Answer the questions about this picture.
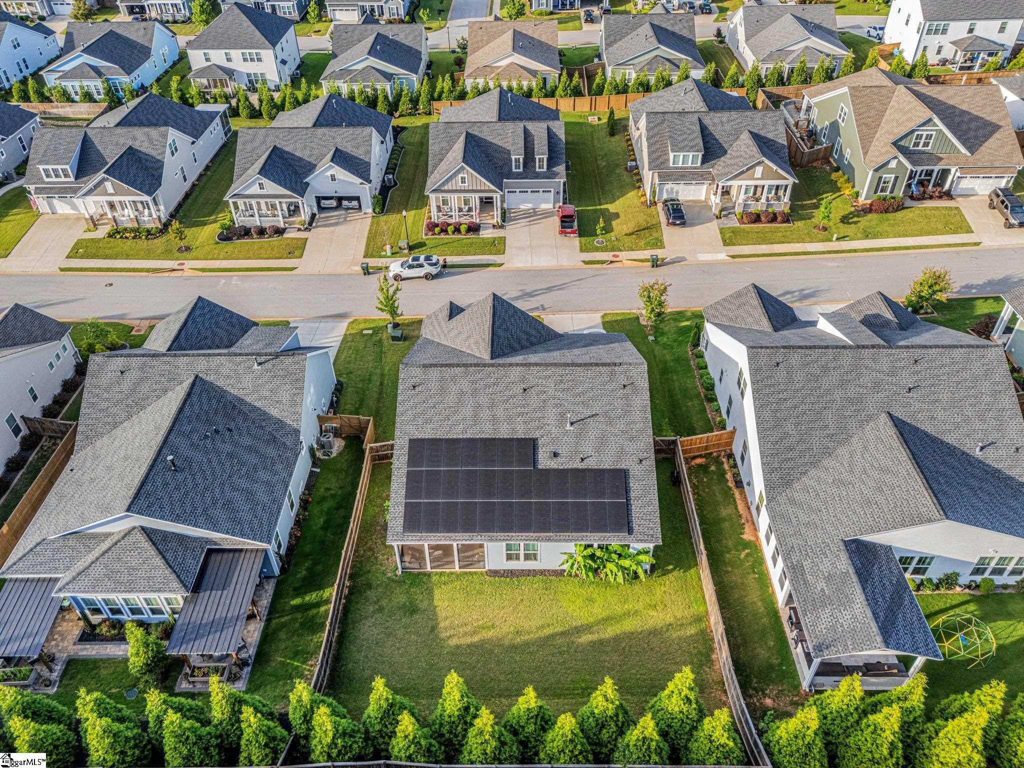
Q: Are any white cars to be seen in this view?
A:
Yes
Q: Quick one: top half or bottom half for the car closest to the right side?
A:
top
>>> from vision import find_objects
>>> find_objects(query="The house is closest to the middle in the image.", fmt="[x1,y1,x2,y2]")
[387,291,662,577]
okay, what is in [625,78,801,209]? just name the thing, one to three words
house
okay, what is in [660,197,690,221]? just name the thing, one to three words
car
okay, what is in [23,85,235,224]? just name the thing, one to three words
house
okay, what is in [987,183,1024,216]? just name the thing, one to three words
car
